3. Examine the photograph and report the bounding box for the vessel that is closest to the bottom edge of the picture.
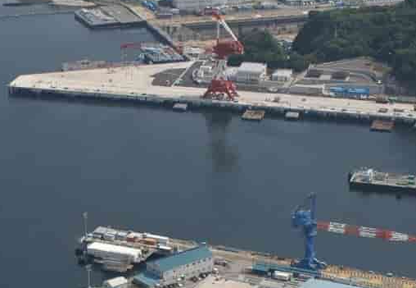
[91,244,145,274]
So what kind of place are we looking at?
port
